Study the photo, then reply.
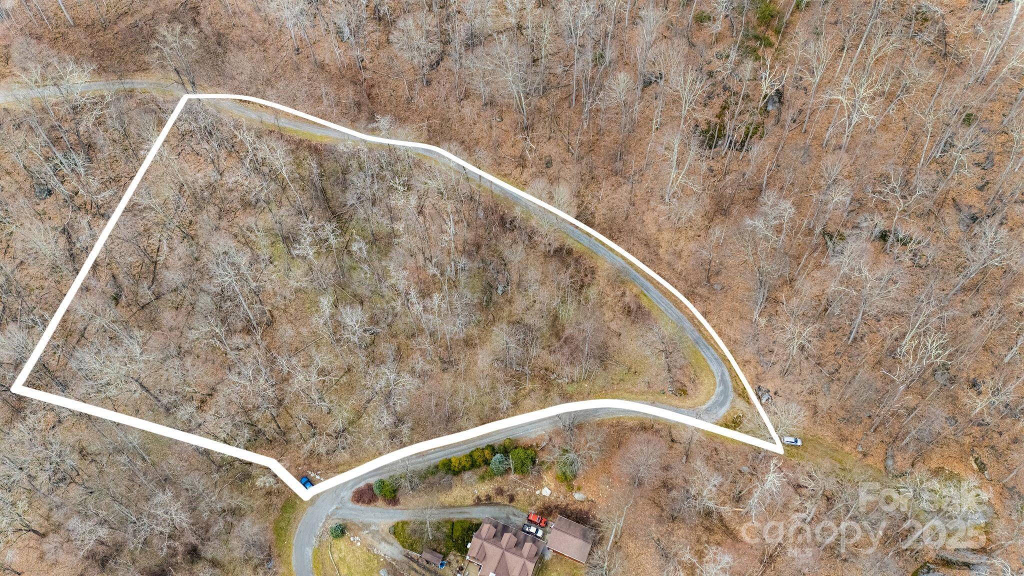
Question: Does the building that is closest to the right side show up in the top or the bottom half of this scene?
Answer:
bottom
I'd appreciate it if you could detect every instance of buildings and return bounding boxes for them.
[547,515,597,566]
[420,548,444,567]
[462,517,546,576]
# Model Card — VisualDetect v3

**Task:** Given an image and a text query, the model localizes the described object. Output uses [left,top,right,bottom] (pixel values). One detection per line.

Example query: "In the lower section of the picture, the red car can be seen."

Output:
[528,512,547,527]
